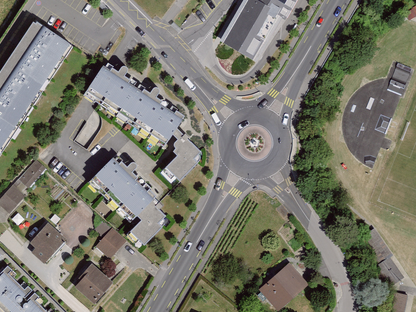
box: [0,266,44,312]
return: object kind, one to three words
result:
building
